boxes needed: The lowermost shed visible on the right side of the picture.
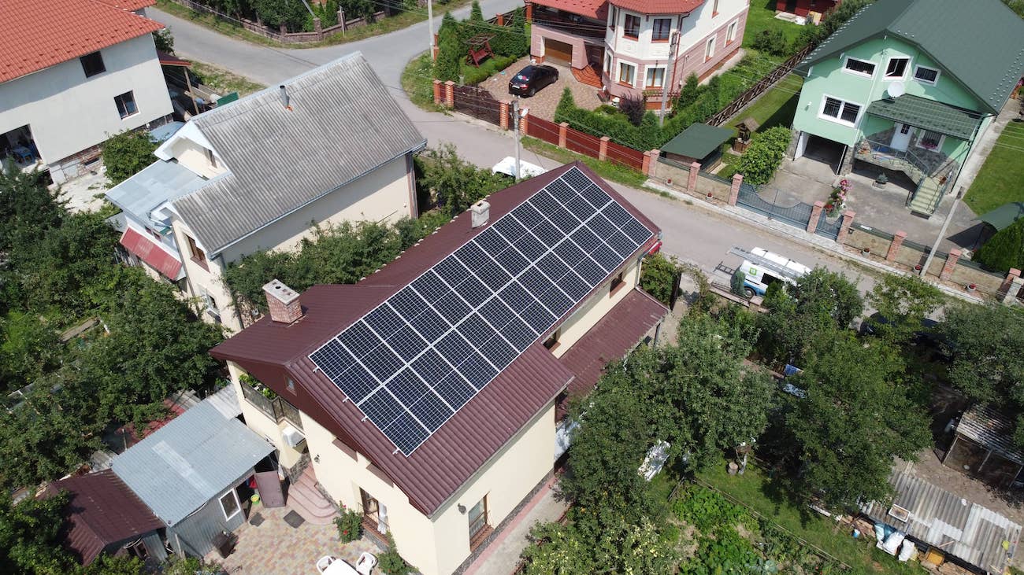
[854,464,1024,575]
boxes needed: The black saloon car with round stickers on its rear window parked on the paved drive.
[505,58,561,94]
